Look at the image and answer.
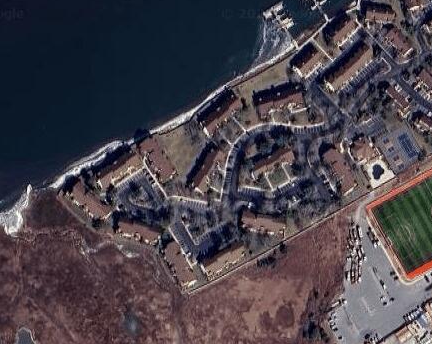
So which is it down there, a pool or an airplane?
pool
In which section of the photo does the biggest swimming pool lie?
right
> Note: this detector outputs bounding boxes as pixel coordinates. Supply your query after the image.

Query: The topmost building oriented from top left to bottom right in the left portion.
[140,141,178,187]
